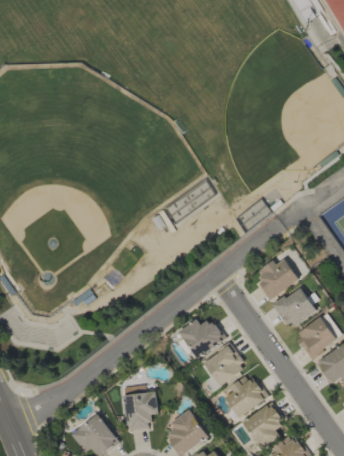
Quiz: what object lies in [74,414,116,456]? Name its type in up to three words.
house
